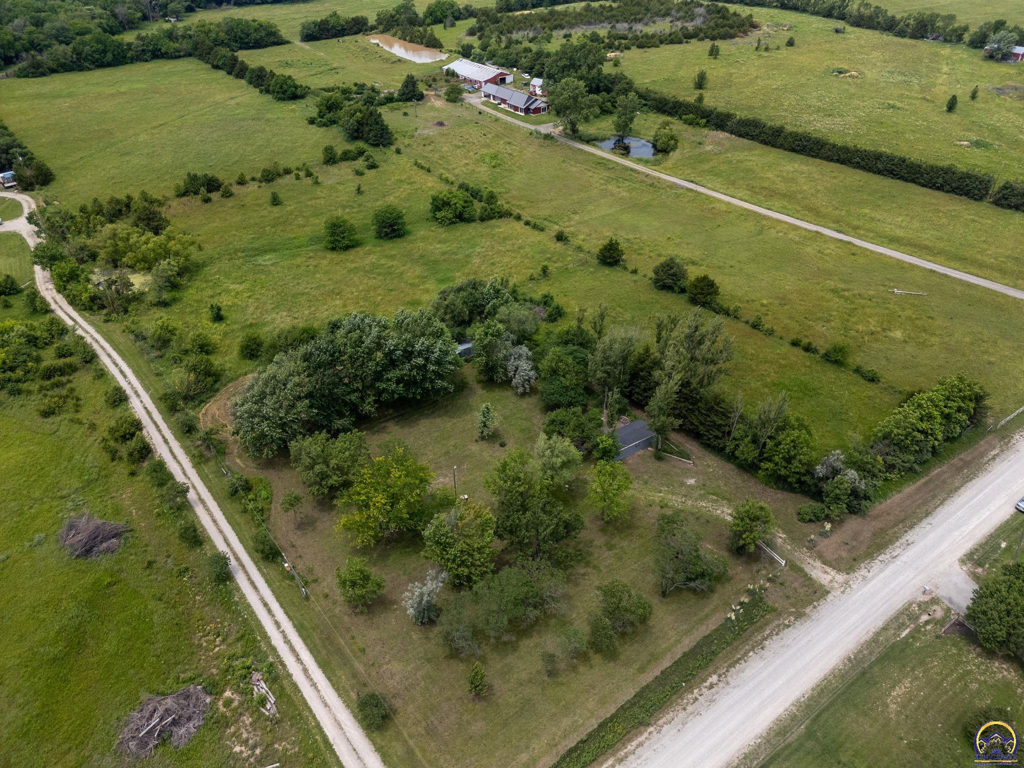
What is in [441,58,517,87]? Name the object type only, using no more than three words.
barn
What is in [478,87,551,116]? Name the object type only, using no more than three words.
house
